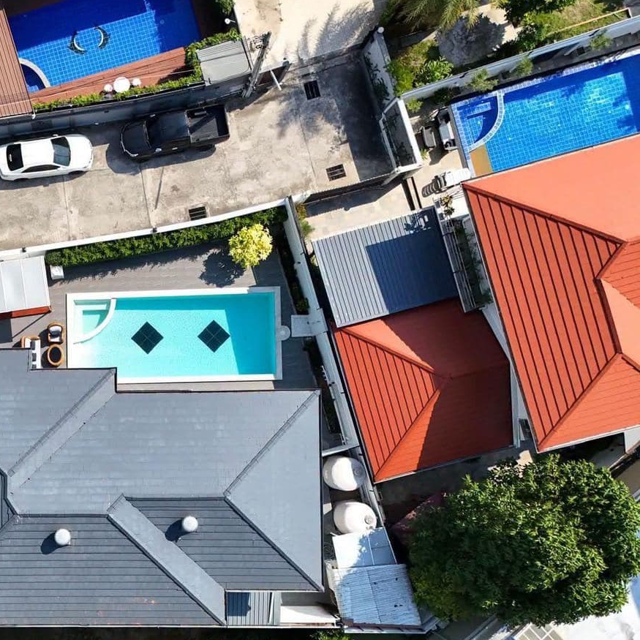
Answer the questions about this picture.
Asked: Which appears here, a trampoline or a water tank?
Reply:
water tank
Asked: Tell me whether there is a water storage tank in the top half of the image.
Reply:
No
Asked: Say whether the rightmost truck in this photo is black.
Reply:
Yes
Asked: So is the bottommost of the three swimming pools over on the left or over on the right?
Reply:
left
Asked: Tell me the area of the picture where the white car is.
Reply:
top left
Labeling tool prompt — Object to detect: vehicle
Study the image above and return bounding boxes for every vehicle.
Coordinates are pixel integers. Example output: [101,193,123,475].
[120,106,230,160]
[0,133,91,184]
